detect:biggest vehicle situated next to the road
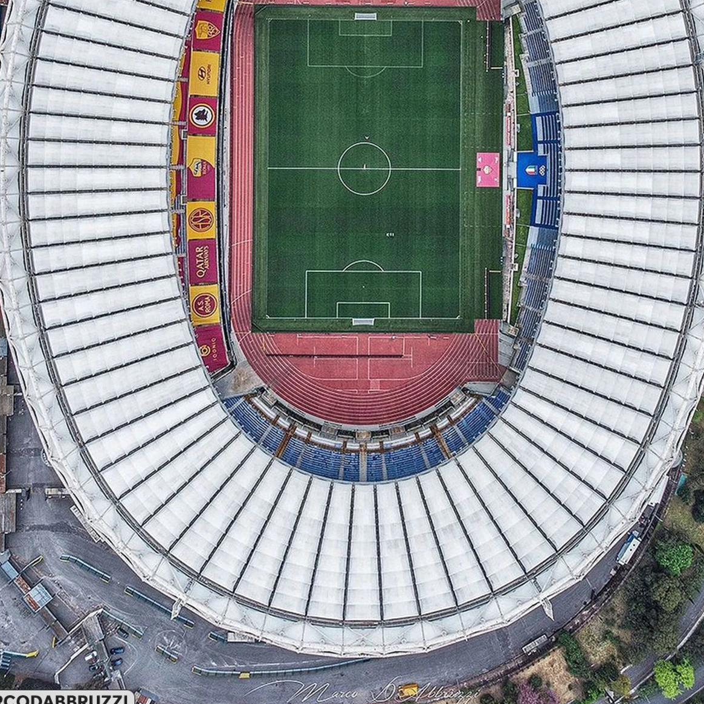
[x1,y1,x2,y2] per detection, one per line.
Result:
[614,532,642,565]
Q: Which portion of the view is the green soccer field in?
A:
top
